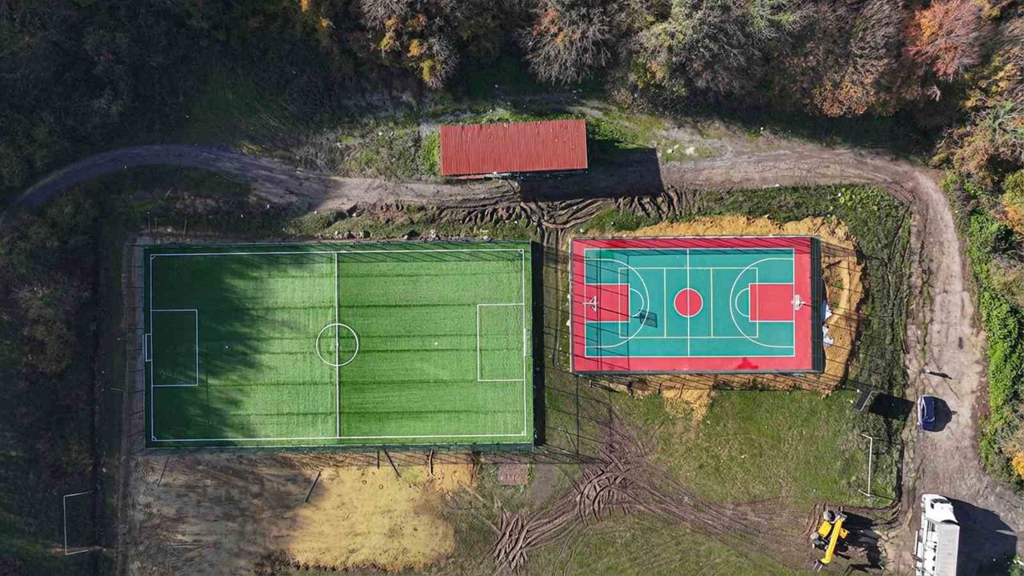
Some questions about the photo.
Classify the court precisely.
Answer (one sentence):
In the photo, the court shows up as a basketball court.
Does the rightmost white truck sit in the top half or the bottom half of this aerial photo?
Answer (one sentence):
It is in the bottom half that the rightmost white truck appears.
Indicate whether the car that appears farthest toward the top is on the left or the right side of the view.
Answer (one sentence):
The car that appears farthest toward the top appears in the right half of the scene.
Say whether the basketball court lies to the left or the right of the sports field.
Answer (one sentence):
Compared with the sports field, the basketball court is located further to the right.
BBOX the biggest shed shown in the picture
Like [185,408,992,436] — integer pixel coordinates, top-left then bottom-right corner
[439,120,589,184]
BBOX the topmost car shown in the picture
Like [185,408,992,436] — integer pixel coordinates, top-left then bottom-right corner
[917,395,938,430]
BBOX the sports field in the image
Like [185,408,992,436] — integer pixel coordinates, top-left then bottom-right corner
[143,240,533,449]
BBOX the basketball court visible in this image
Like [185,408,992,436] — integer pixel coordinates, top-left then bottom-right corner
[569,237,813,373]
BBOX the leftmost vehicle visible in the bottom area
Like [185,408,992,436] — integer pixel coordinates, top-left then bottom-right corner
[811,510,848,576]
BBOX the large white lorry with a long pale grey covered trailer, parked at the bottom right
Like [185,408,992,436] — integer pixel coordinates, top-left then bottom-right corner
[916,494,957,576]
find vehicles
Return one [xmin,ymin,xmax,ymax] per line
[811,510,848,576]
[916,494,957,576]
[917,395,938,430]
